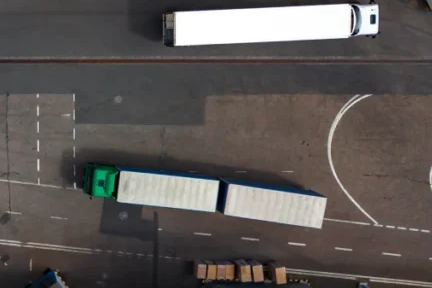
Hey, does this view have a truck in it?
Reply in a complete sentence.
Yes, there's a truck down there.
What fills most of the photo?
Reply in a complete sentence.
The scene is dominated by paved ground.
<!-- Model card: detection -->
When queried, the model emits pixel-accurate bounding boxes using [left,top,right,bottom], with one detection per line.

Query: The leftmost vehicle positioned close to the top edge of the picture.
[159,0,378,46]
